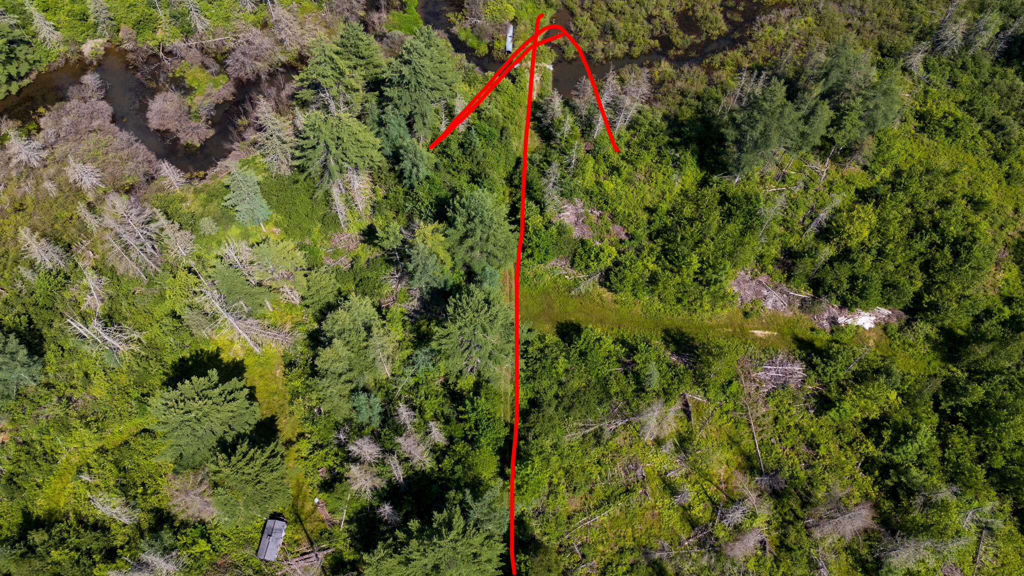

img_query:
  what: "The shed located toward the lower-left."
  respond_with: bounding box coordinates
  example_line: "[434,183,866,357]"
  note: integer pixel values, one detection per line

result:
[256,519,288,560]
